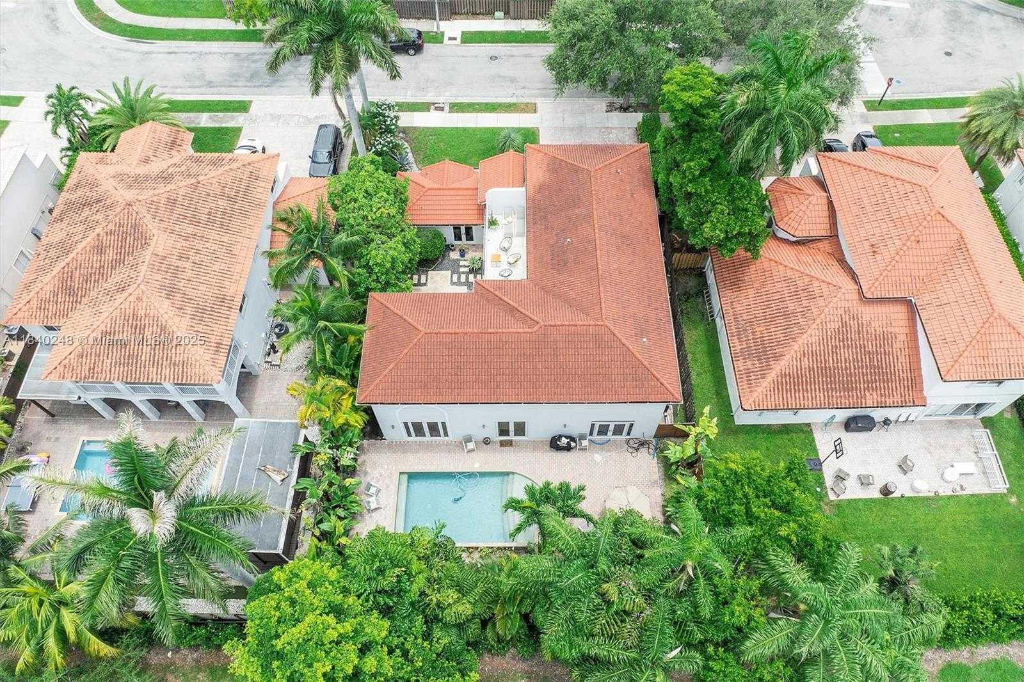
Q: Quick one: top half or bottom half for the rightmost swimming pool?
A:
bottom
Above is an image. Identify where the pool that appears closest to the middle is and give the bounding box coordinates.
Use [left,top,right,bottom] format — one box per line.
[392,469,546,547]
